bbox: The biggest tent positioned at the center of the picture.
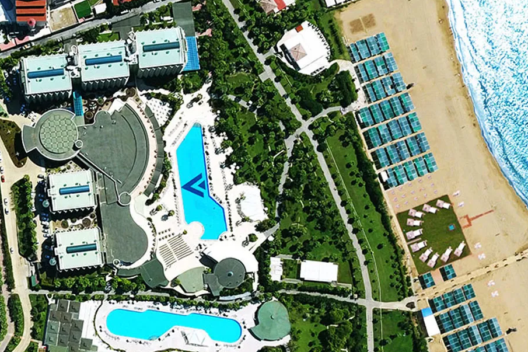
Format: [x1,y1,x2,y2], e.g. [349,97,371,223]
[238,183,265,221]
